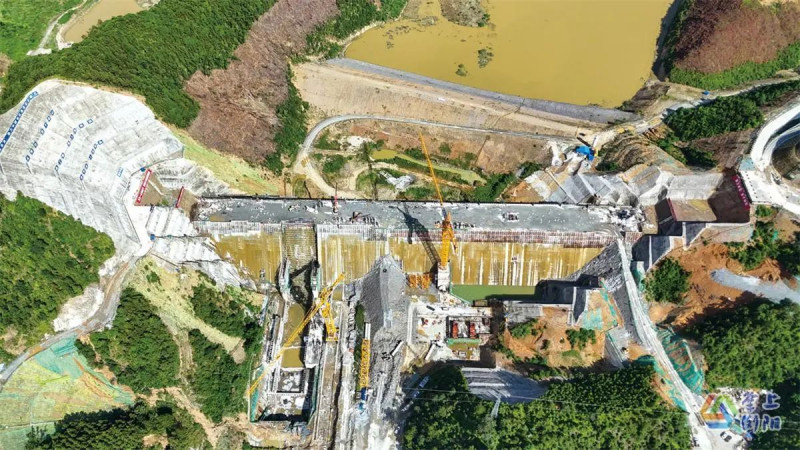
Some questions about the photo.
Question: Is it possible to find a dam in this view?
Yes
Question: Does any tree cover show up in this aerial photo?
Yes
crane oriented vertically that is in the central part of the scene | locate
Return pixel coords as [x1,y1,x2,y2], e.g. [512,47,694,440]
[419,127,462,294]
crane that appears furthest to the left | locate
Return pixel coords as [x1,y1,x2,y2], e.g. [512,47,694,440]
[245,274,352,395]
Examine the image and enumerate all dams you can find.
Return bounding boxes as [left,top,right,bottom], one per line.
[195,195,651,310]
